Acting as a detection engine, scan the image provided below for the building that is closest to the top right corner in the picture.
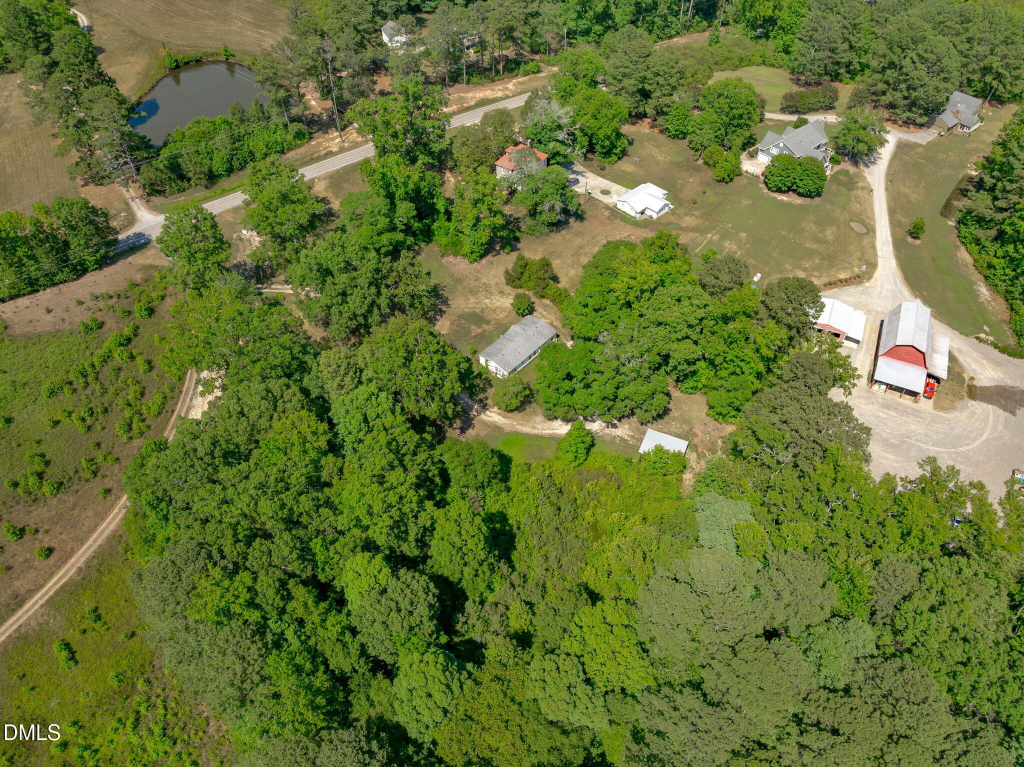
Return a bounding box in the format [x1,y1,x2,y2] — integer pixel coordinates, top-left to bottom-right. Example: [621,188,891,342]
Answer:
[929,91,986,136]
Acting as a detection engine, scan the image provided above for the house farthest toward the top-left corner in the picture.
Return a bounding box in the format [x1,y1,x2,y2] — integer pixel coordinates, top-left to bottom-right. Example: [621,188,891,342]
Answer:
[382,17,413,47]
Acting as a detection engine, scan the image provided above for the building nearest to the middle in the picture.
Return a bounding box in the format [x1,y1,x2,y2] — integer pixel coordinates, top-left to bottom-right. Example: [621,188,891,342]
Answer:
[478,316,558,381]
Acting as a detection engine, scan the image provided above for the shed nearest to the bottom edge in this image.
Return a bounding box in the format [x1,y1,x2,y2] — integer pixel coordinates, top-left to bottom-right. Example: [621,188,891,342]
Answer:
[637,429,689,461]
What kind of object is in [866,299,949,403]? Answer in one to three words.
barn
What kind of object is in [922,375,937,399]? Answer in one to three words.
vehicle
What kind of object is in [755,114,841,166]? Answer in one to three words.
house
